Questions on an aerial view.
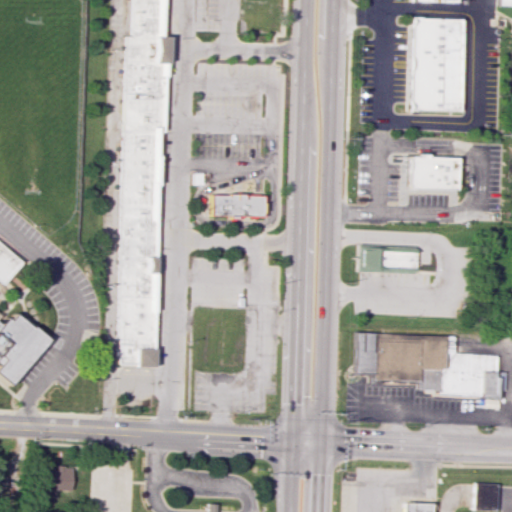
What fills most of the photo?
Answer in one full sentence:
The largest share of the image is taken up by paved ground.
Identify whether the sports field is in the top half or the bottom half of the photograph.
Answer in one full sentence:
It is in the top half that the sports field appears.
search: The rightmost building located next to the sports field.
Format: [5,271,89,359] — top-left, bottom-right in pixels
[116,0,176,368]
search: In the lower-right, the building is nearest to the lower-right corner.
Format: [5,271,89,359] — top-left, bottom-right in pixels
[472,484,502,512]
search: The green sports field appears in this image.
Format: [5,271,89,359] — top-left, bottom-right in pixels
[0,0,90,266]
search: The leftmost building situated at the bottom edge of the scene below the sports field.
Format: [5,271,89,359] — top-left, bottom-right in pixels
[58,466,76,492]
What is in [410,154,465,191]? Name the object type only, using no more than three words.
building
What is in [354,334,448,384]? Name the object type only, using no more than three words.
building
